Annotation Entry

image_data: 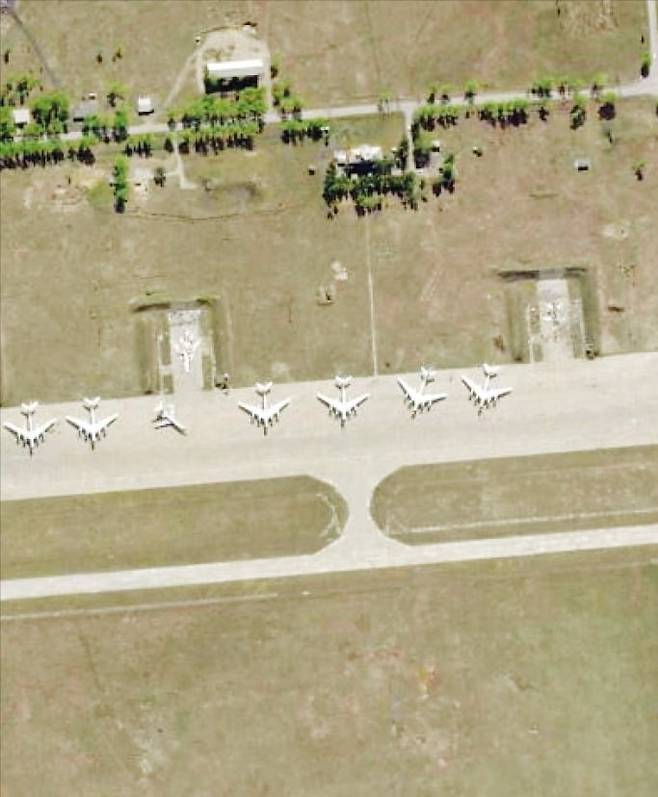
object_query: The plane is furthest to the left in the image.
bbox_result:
[4,402,56,451]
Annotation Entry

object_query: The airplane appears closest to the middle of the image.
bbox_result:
[317,375,369,424]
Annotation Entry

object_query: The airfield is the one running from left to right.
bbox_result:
[0,277,658,600]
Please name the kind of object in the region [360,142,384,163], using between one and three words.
house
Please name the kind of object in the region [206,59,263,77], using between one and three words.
barn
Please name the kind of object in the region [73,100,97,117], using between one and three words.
house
